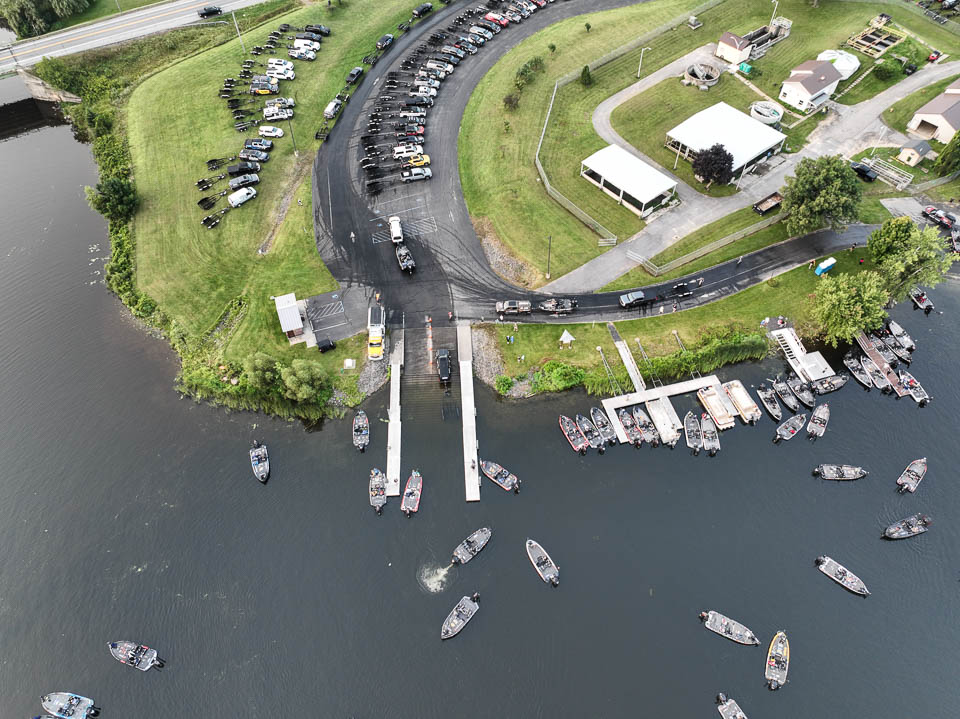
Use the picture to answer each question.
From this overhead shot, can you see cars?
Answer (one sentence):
Yes, the photo shows a car.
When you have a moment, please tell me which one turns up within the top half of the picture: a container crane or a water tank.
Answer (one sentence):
It is a water tank that can be seen within the top half of the picture.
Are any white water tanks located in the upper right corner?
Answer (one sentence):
Yes, in the upper right corner there is a white water tank.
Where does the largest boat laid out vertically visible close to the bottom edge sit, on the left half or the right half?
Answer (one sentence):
The largest boat laid out vertically visible close to the bottom edge is on the right side of the image.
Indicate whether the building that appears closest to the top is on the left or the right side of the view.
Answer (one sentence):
The building that appears closest to the top sits on the right side.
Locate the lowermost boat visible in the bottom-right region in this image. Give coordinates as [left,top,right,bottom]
[717,690,744,719]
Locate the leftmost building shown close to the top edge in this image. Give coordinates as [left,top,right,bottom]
[716,28,757,64]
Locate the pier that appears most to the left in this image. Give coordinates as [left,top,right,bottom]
[385,367,401,497]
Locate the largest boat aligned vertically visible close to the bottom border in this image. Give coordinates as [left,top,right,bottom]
[767,629,789,688]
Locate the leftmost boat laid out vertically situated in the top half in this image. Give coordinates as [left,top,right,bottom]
[397,240,412,275]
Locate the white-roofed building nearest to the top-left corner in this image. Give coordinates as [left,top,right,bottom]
[276,294,305,340]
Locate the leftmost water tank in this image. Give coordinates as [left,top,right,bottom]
[684,61,723,90]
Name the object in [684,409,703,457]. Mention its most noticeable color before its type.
gray boat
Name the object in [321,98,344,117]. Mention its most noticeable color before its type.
white vehicle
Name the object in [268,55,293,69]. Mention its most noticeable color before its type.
white car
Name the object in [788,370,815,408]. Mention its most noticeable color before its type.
gray boat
